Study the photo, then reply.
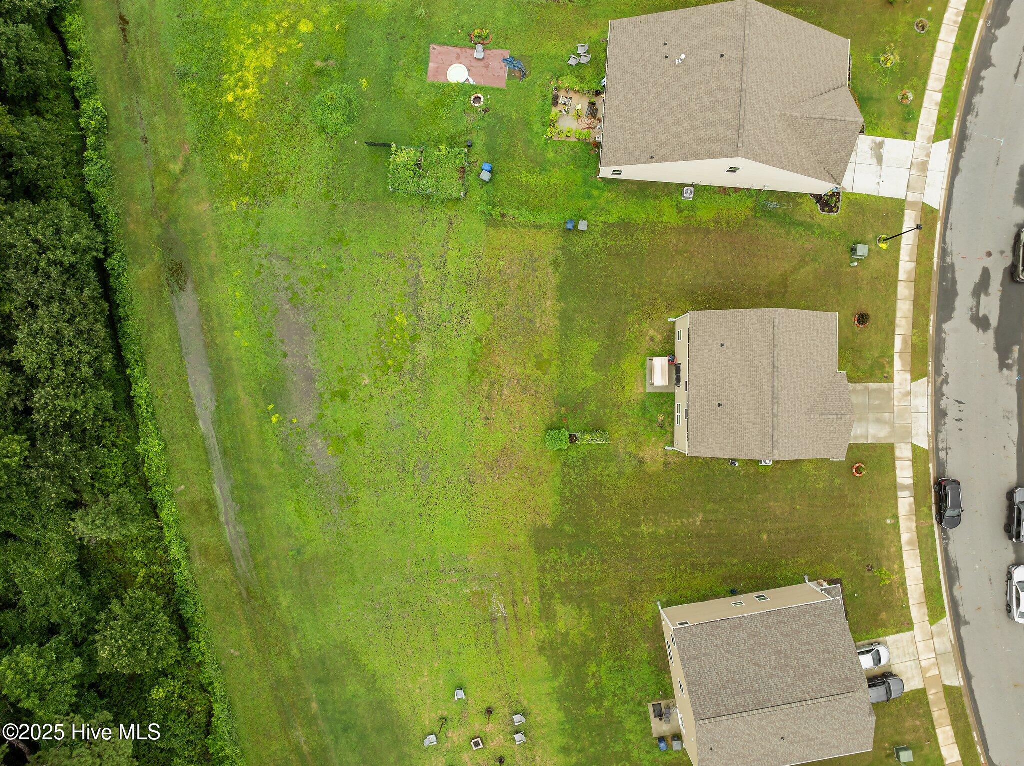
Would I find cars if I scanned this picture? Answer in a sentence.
Yes, looking at the shot, I can spot a car.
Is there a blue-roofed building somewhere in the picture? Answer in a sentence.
No, I can't see a single blue-roofed building in this photo.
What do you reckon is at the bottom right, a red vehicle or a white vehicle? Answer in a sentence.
The one visible at the bottom right is a white vehicle.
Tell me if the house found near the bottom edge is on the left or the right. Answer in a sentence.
The house found near the bottom edge is on the right side of the image.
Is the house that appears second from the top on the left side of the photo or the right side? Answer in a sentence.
It is on the right.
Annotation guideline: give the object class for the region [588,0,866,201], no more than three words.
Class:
house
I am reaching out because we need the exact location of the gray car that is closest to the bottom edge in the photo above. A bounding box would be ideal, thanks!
[870,671,904,705]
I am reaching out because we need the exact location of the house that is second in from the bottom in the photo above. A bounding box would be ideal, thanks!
[660,307,855,459]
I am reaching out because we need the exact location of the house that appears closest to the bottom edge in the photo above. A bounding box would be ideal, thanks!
[660,570,879,766]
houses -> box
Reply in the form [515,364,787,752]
[660,570,879,766]
[588,0,866,201]
[660,307,855,459]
